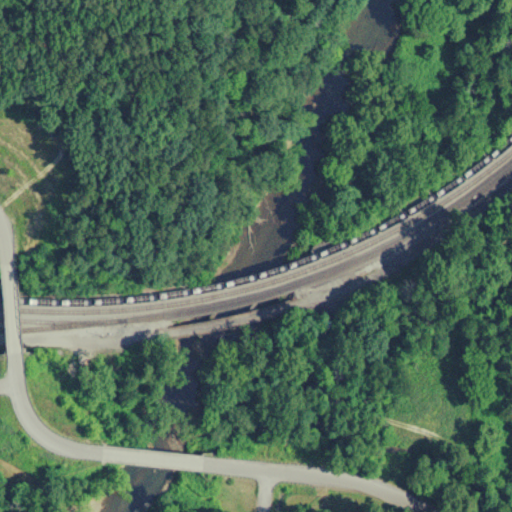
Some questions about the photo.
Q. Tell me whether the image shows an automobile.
No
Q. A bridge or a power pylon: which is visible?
bridge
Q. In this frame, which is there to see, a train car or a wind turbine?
train car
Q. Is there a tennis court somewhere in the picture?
No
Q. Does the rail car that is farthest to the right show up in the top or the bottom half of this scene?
top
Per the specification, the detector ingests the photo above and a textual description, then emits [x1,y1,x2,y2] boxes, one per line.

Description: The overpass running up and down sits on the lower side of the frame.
[1,268,26,358]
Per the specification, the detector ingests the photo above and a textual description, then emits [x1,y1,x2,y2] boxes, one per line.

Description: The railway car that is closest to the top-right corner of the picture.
[489,136,512,160]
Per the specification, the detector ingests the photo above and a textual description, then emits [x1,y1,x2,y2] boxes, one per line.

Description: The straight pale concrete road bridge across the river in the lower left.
[98,443,214,473]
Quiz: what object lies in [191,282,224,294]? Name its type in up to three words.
rail car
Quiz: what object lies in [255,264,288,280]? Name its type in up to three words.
rail car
